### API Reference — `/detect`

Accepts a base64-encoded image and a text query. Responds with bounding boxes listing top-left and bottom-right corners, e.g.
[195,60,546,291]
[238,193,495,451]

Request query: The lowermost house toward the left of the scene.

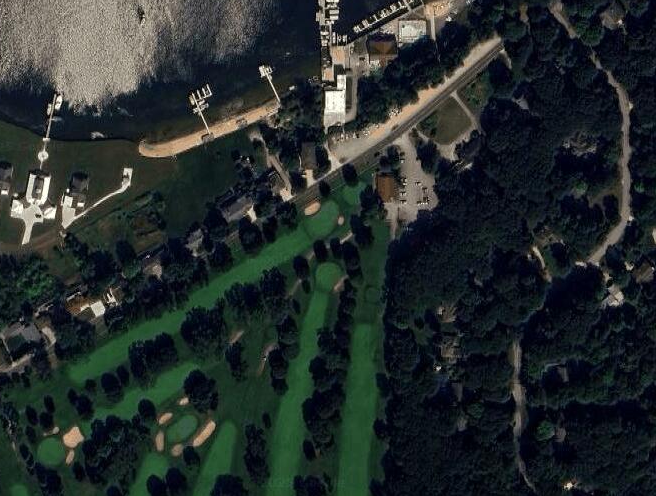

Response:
[1,315,42,354]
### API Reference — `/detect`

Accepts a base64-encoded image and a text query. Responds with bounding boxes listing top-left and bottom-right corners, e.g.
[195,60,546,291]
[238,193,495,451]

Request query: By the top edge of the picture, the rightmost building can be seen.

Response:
[599,3,626,27]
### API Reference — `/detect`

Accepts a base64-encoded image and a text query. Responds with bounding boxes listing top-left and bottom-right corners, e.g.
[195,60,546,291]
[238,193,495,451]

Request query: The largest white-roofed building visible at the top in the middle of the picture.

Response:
[325,73,347,123]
